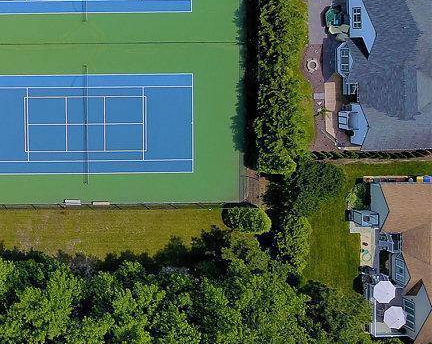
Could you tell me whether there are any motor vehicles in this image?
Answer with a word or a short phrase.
No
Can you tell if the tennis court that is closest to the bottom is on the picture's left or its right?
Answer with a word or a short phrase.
left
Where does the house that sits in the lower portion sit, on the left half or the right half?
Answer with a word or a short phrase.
right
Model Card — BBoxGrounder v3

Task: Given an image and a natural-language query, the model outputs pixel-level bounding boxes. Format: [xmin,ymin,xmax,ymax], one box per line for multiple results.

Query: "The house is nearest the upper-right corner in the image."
[336,0,432,153]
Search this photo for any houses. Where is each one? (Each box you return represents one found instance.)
[354,182,432,342]
[336,0,432,153]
